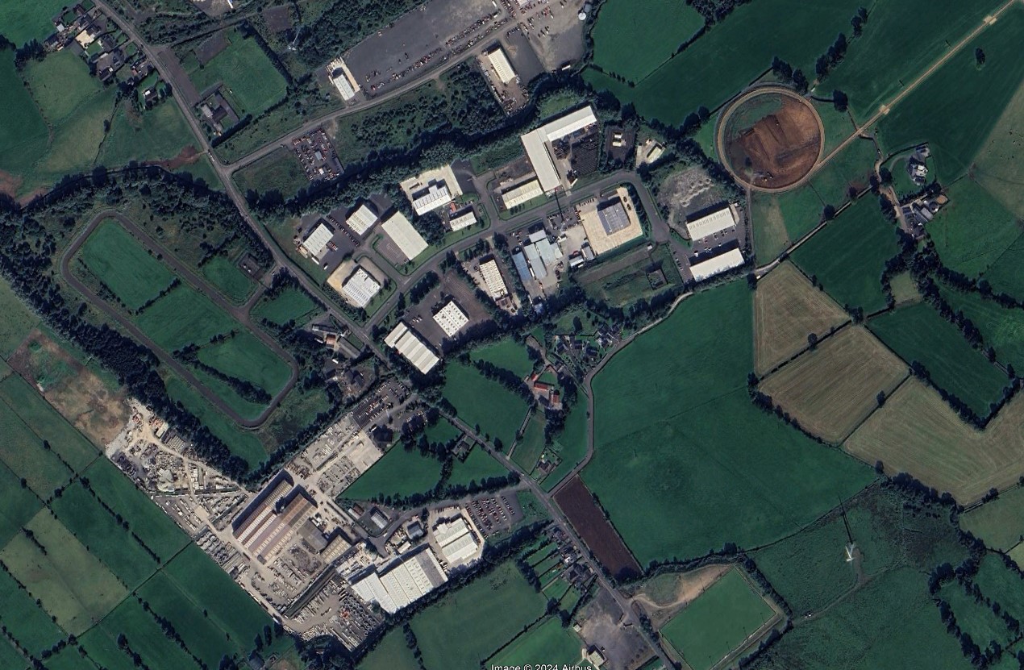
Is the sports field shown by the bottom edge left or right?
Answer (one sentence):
The sports field shown by the bottom edge is on the right side of the image.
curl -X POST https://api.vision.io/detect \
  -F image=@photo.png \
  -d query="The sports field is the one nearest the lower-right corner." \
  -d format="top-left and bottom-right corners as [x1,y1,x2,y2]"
[659,565,784,670]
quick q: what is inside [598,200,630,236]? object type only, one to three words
building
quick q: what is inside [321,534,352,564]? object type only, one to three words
building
